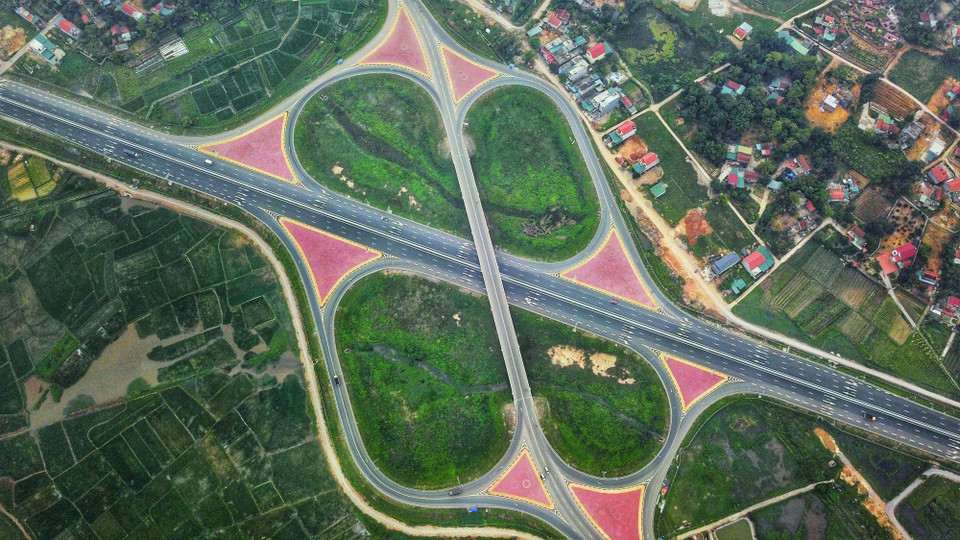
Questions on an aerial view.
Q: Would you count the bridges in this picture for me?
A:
1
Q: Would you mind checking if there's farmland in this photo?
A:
Yes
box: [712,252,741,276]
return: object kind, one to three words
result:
house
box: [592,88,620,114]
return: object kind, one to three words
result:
house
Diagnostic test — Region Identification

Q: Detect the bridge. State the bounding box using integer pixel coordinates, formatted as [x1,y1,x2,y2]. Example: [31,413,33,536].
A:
[453,150,531,397]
